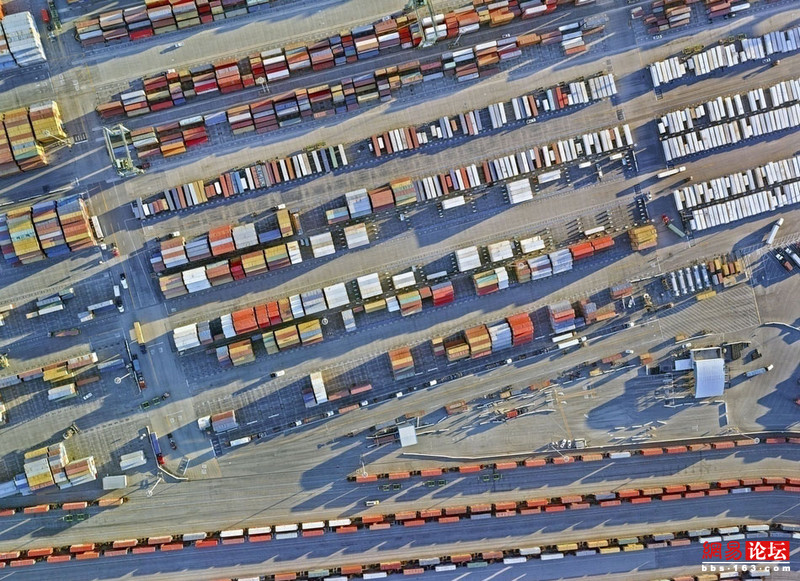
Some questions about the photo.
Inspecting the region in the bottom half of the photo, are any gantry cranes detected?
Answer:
No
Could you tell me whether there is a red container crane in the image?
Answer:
No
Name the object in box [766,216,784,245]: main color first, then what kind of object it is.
white vehicle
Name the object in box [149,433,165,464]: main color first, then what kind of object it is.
blue vehicle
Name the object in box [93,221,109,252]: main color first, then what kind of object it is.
white vehicle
